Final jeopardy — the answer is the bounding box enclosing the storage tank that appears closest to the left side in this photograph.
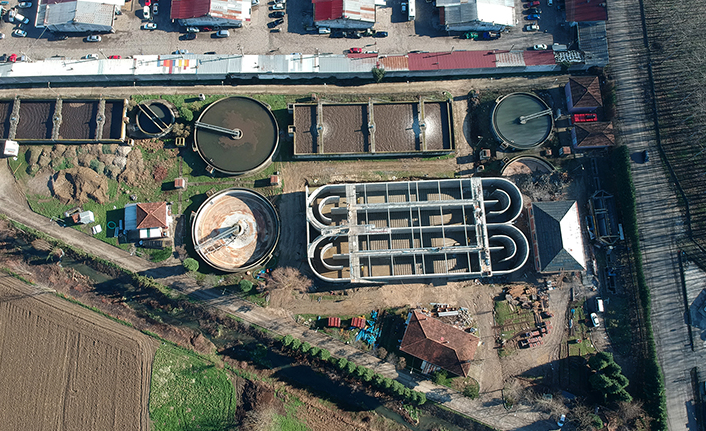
[0,100,132,143]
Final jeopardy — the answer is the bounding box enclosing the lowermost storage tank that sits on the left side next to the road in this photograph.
[188,187,282,276]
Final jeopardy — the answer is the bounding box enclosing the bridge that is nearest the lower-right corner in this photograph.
[470,177,494,277]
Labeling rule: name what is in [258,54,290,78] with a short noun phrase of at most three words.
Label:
shed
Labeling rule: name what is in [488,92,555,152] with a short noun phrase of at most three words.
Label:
storage tank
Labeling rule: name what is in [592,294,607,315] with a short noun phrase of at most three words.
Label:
vehicle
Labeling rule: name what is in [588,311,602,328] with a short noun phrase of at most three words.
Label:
vehicle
